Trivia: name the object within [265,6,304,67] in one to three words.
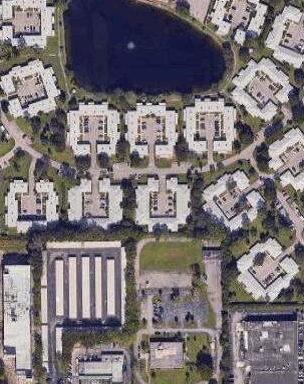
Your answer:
building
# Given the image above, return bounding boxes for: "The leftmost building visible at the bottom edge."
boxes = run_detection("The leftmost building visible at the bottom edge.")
[2,265,32,377]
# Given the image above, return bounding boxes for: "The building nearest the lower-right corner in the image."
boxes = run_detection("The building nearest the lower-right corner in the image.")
[243,321,297,384]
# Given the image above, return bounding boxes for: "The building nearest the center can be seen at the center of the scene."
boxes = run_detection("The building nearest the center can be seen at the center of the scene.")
[135,173,189,233]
